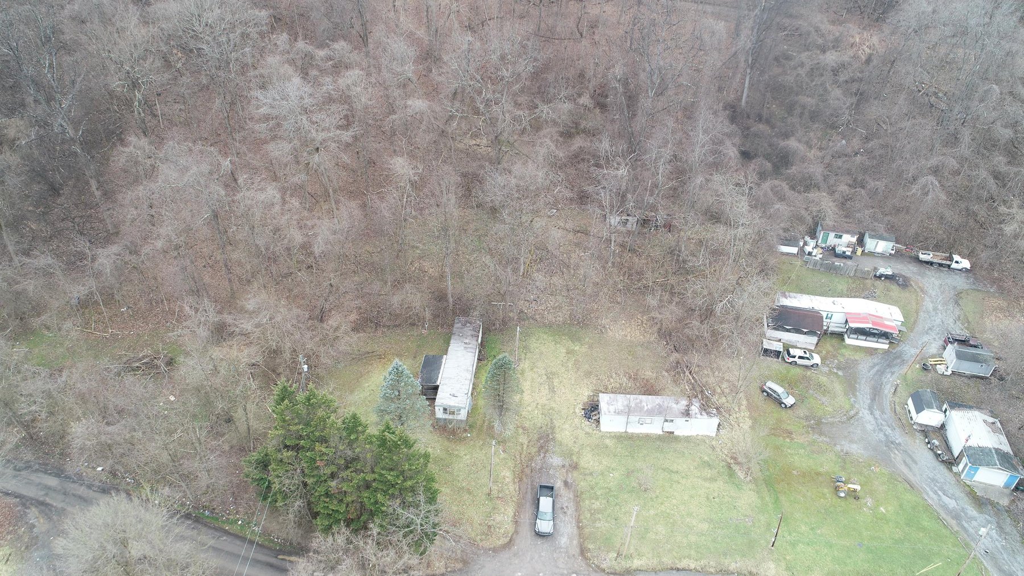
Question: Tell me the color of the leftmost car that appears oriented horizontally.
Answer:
white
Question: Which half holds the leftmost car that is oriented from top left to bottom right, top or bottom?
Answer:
bottom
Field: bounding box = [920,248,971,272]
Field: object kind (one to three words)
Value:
truck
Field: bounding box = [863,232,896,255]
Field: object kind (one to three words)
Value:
shed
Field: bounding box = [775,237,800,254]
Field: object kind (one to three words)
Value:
shed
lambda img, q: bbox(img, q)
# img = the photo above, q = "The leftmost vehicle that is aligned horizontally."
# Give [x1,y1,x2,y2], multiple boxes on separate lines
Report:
[785,347,824,368]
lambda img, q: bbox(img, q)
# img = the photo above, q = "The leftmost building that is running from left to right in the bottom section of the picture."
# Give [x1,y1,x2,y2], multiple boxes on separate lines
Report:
[600,393,721,436]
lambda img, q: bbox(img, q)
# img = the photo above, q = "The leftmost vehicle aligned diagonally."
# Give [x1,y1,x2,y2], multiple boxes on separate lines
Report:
[760,377,797,408]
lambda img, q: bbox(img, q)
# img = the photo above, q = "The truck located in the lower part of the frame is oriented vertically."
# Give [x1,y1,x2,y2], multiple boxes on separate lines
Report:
[535,481,557,533]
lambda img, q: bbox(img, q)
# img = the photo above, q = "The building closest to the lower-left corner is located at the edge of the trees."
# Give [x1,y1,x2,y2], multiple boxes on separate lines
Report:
[418,316,482,427]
